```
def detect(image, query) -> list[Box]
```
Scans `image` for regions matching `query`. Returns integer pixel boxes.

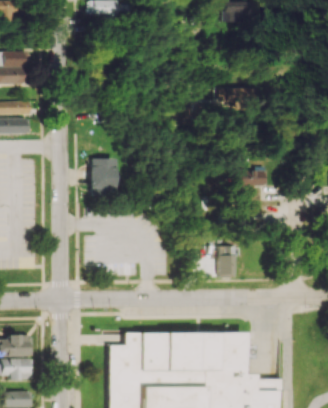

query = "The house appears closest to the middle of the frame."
[92,158,119,192]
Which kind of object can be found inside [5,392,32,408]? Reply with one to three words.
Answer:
house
